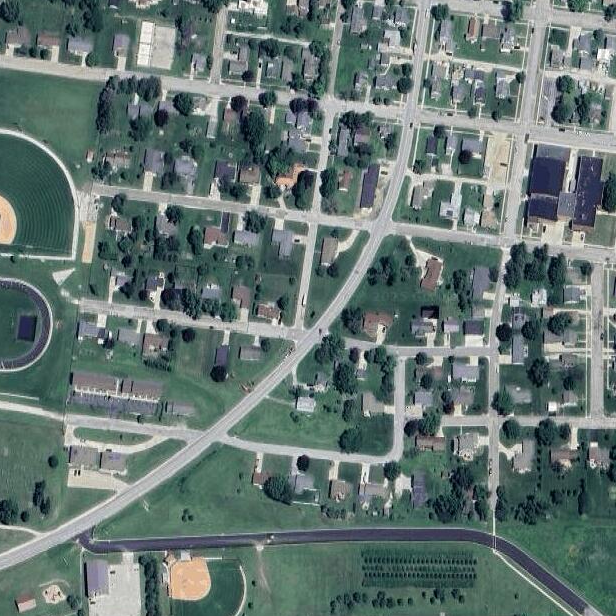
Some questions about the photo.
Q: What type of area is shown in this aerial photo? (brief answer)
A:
residential area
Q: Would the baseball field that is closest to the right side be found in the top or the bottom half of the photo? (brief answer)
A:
bottom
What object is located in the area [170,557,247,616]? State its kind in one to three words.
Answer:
baseball field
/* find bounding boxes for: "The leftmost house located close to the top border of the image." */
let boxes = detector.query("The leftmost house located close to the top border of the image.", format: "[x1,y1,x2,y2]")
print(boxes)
[6,28,32,46]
